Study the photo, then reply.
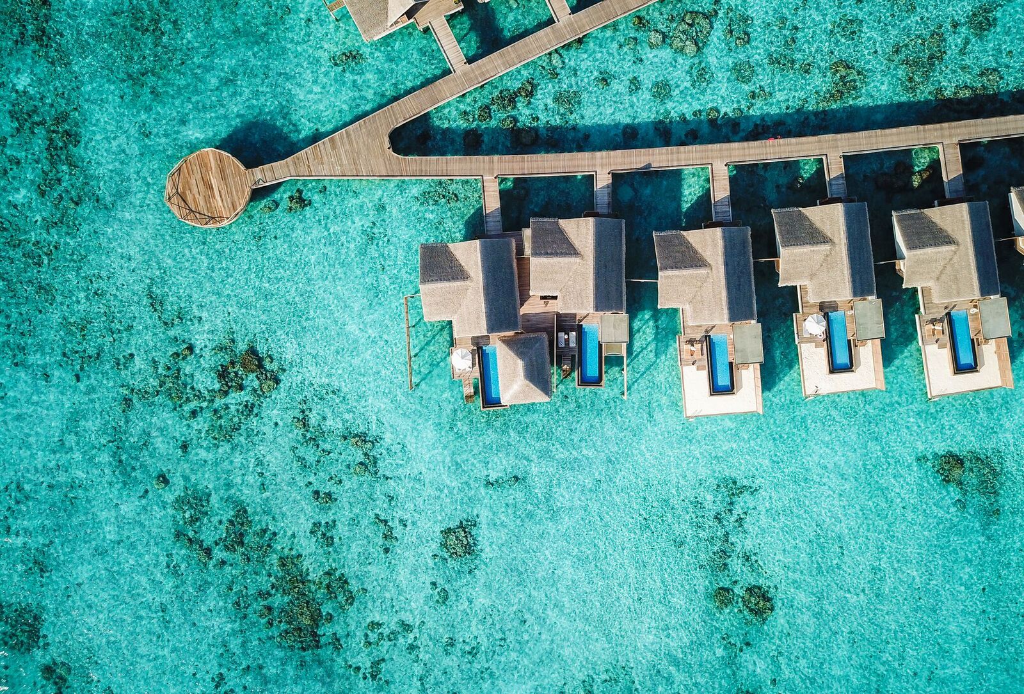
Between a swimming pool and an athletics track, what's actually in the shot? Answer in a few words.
swimming pool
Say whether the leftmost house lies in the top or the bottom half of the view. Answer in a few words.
top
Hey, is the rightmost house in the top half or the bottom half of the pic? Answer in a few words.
top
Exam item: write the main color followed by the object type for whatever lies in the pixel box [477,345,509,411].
blue swimming pool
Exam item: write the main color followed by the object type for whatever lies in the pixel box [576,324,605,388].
blue swimming pool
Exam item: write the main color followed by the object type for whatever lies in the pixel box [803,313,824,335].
white umbrella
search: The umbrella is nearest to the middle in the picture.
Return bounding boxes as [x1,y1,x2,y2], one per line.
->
[451,348,472,370]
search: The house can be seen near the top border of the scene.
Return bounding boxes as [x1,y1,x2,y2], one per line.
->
[344,0,426,45]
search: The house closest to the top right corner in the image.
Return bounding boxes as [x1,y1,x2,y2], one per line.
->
[992,187,1024,262]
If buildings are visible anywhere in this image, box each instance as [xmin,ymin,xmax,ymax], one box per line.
[992,187,1024,262]
[498,333,551,405]
[653,220,755,326]
[344,0,426,45]
[529,211,625,313]
[420,231,521,337]
[880,194,997,303]
[766,195,875,303]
